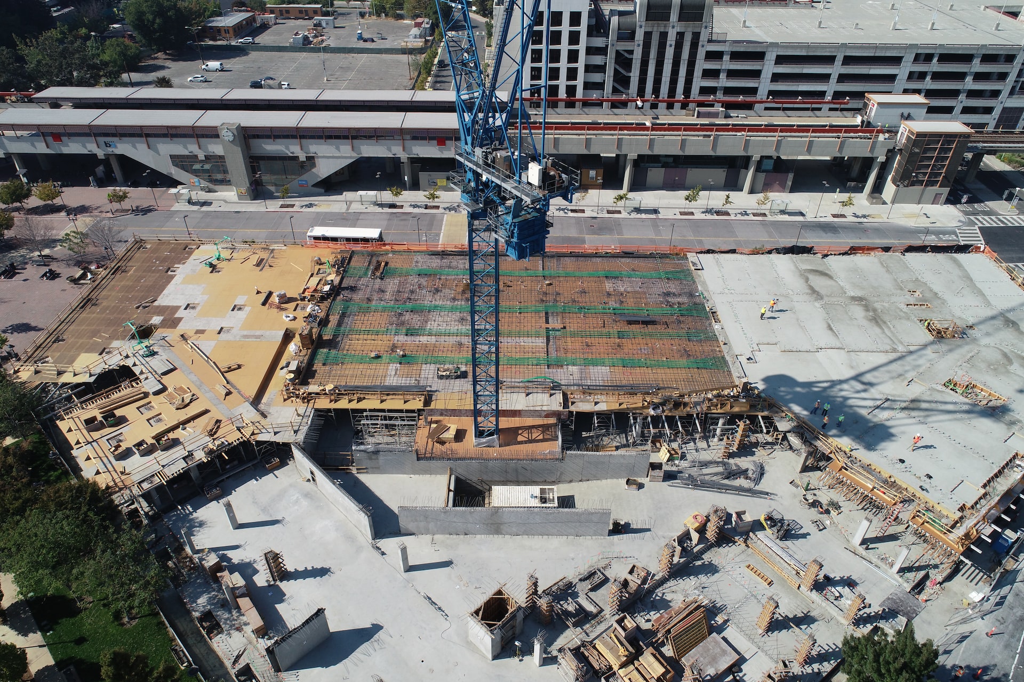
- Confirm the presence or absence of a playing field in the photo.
No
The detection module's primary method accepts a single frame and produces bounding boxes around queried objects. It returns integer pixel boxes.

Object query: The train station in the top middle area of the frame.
[0,81,896,192]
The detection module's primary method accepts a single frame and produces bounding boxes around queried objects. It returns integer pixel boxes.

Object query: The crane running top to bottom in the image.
[430,0,597,439]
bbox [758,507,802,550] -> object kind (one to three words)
work vehicle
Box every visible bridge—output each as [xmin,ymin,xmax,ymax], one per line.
[953,118,1024,182]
